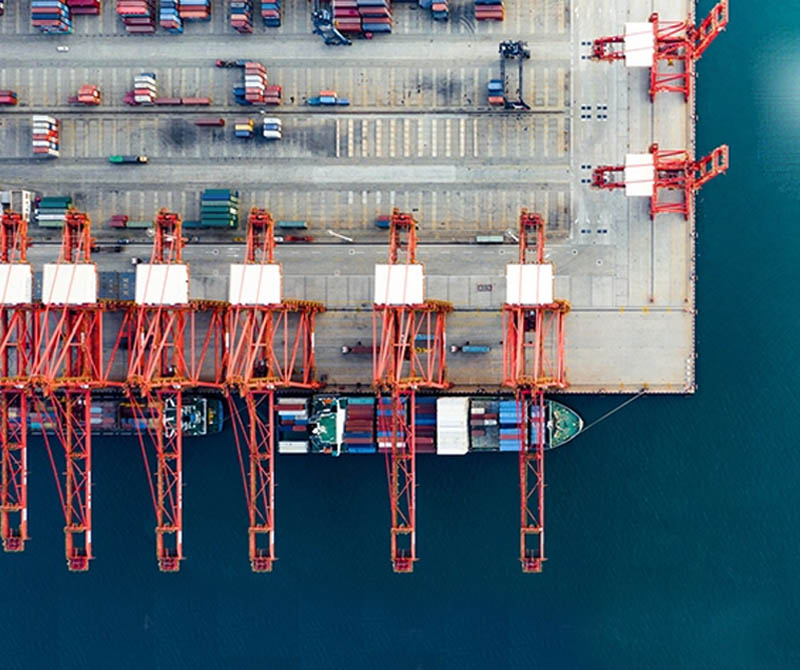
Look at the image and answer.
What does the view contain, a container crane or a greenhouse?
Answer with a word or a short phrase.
container crane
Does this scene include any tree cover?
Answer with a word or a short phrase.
No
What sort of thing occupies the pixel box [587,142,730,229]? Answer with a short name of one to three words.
container crane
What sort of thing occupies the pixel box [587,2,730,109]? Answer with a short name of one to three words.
container crane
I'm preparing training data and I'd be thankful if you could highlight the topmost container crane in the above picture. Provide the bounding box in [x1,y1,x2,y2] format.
[312,0,351,45]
